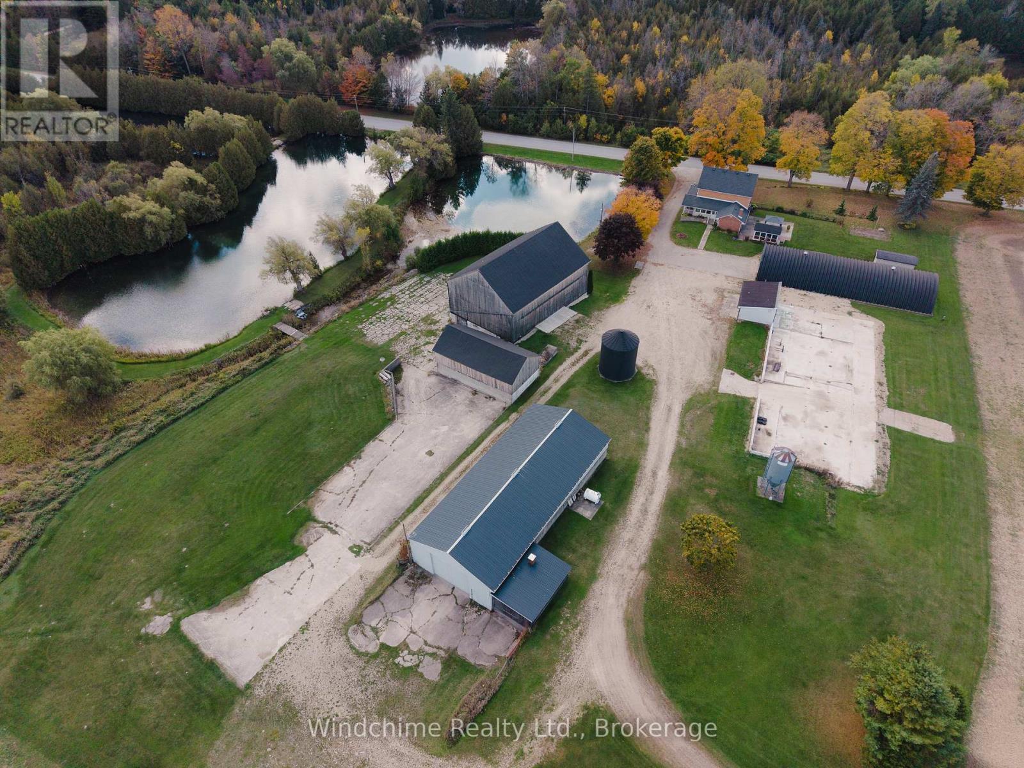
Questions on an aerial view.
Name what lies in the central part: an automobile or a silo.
silo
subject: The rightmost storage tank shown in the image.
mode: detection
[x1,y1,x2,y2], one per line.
[765,453,794,483]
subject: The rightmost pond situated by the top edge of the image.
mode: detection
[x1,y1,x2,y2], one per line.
[384,25,528,111]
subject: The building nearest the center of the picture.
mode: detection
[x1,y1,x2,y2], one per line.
[432,323,542,404]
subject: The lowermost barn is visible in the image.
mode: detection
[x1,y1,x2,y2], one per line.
[404,403,613,633]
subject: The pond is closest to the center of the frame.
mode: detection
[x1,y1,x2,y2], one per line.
[427,154,626,256]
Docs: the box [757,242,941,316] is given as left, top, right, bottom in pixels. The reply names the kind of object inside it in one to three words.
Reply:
shed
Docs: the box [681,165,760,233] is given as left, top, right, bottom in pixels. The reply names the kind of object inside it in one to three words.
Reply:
house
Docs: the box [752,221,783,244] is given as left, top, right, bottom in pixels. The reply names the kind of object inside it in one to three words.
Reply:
building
